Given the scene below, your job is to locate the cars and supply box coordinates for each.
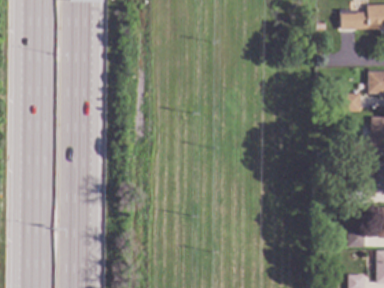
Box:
[68,147,74,162]
[32,104,38,116]
[84,102,91,116]
[23,38,28,46]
